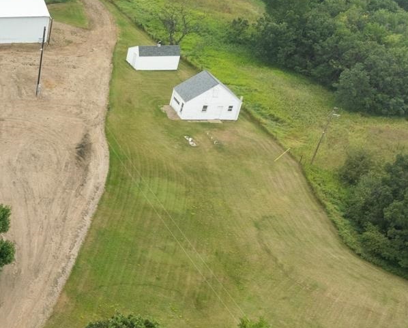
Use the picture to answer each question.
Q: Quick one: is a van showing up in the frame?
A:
No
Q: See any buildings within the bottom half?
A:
No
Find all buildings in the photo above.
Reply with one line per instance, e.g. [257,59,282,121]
[127,38,180,69]
[166,68,242,120]
[0,0,54,44]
